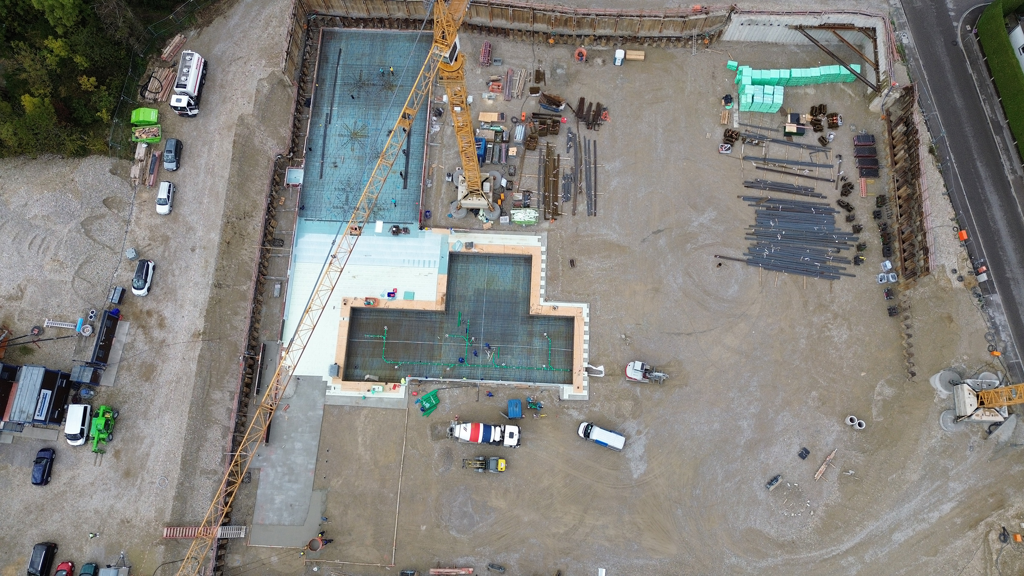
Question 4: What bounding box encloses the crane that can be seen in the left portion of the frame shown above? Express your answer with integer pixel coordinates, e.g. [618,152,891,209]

[174,0,494,576]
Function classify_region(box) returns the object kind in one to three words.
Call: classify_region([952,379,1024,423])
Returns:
crane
